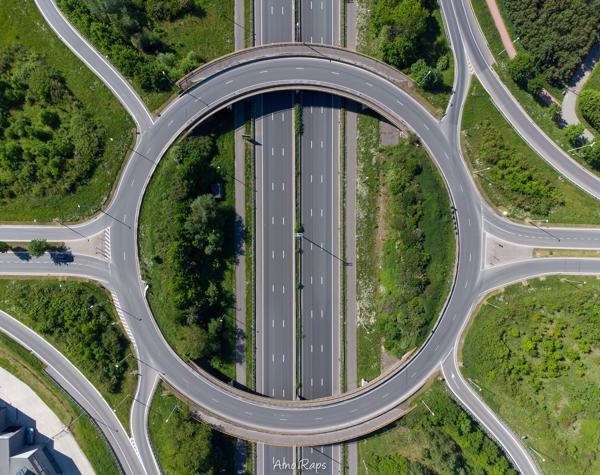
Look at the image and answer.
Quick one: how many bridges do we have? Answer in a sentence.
The number of bridges here is 2.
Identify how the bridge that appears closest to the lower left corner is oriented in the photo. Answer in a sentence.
The bridge that appears closest to the lower left corner is oriented from side to side.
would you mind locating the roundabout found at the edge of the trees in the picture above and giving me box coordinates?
[104,54,486,434]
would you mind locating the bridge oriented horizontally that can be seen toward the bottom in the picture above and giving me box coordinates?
[176,346,418,447]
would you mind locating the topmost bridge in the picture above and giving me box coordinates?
[174,40,422,136]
